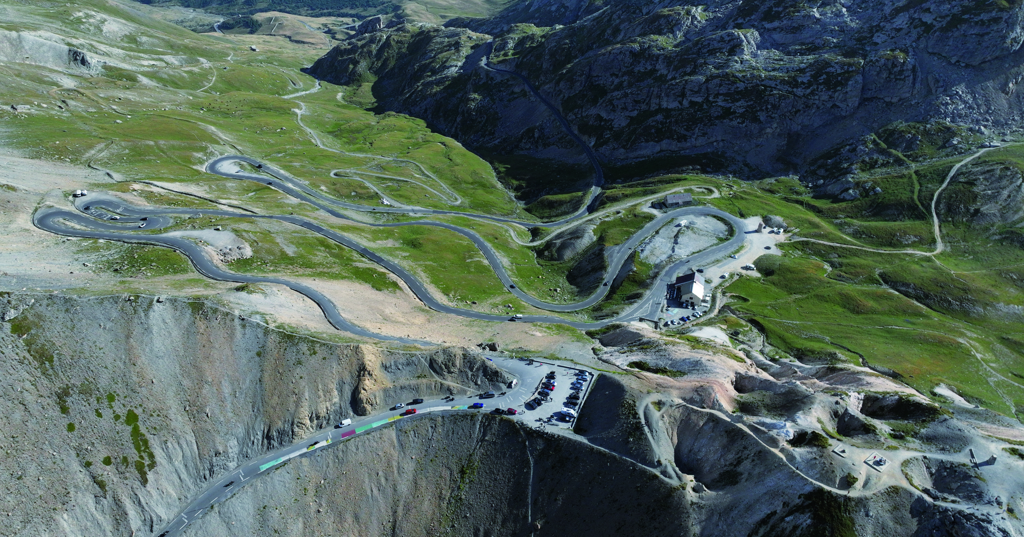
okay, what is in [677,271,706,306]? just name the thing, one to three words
building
